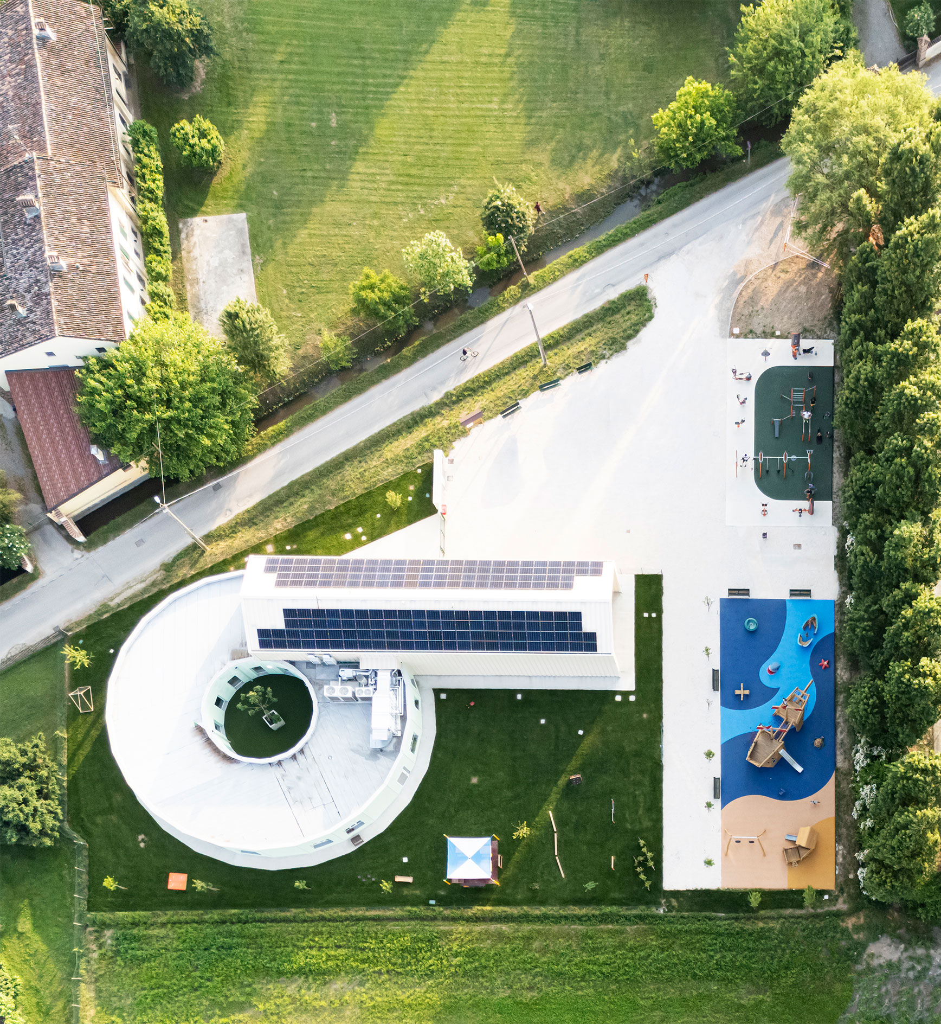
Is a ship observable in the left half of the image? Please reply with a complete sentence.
No, no ship can be made out in the left half of the image.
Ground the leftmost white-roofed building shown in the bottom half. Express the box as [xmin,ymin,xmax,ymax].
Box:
[105,570,420,856]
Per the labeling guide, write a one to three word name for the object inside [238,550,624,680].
building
